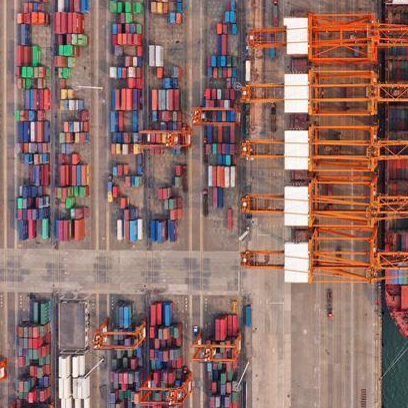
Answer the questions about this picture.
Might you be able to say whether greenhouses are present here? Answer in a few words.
No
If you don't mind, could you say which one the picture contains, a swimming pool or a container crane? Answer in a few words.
container crane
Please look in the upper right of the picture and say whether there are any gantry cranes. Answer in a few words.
Yes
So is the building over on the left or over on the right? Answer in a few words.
left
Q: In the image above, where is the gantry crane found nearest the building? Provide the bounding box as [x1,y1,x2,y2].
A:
[93,317,150,350]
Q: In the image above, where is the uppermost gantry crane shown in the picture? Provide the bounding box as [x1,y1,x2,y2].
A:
[248,12,408,67]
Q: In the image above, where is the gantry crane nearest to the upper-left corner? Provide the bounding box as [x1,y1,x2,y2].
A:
[140,126,193,150]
